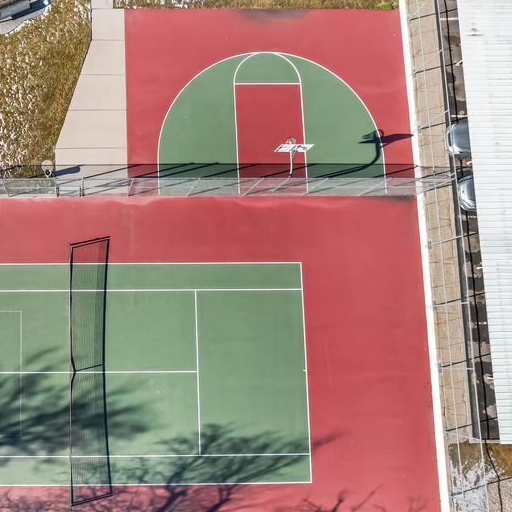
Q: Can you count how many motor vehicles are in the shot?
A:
2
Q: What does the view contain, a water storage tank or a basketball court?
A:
basketball court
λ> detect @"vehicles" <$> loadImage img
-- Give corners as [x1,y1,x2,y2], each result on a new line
[447,121,472,158]
[457,176,477,213]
